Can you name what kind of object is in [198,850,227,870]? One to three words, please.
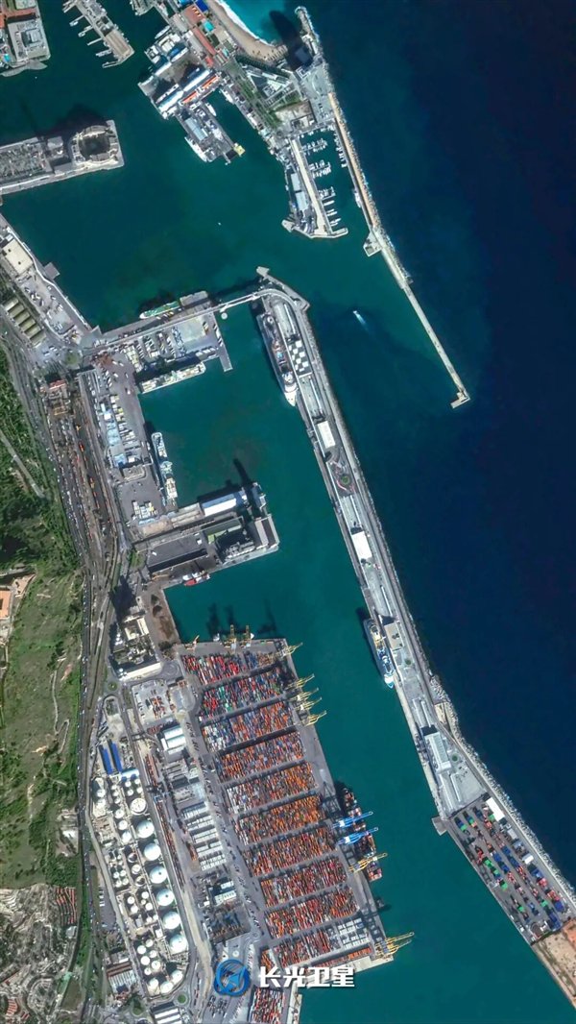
shed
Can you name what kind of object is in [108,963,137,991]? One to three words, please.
building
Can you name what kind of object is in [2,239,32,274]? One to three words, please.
building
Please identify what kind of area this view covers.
port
